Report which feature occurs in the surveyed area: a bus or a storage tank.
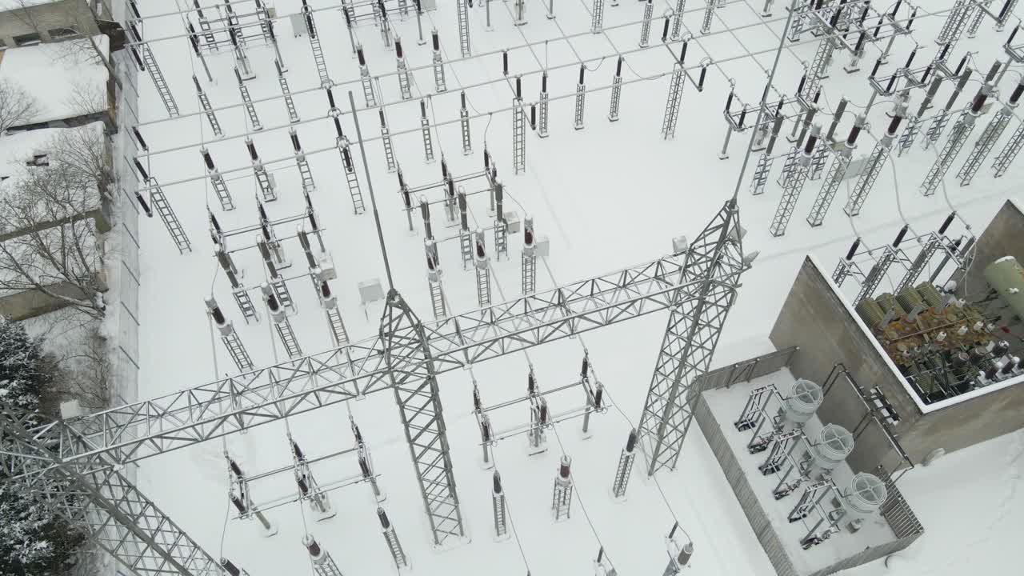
storage tank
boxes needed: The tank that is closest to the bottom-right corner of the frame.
[879,310,993,397]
